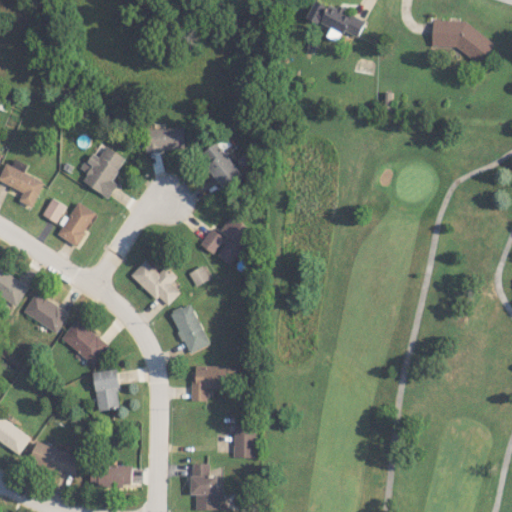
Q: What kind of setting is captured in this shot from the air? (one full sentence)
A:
This image shows a golf course.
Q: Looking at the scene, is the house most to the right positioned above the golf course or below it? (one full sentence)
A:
The position of the house most to the right is above the golf course.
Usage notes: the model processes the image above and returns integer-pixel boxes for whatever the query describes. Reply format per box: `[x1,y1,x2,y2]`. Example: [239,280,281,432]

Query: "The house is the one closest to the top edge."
[306,2,365,36]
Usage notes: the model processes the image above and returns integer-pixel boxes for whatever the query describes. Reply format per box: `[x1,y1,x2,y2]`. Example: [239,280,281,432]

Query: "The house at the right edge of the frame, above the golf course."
[432,20,494,63]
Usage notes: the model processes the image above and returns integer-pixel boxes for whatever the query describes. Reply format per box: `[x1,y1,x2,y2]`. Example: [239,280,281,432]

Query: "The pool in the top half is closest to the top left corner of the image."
[78,135,94,150]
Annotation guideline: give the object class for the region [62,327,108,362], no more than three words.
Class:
house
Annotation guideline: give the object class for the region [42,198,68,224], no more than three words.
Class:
building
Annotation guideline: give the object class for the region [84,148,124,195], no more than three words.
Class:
house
